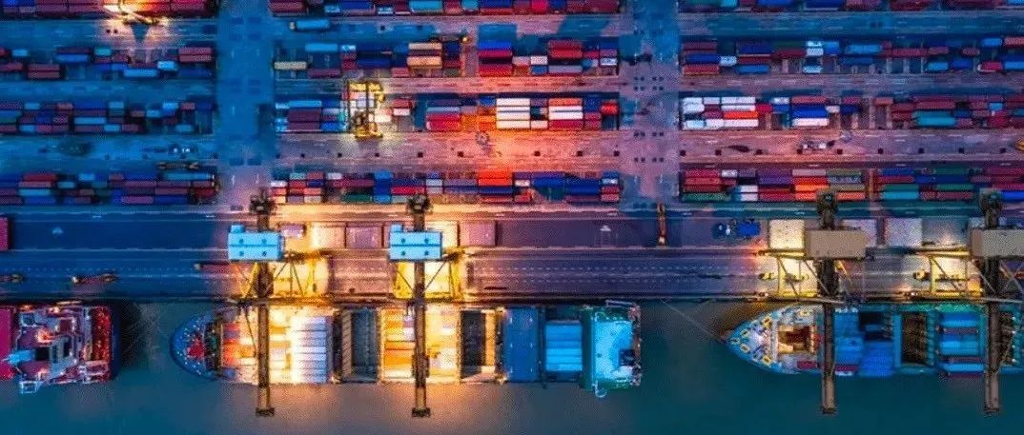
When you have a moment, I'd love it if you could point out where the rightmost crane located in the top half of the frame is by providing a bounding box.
[342,81,384,143]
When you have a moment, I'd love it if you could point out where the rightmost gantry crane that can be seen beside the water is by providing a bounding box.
[903,192,1024,419]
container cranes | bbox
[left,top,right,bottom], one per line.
[758,192,867,417]
[342,81,384,143]
[387,192,464,422]
[228,192,325,421]
[903,192,1024,419]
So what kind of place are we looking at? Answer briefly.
port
